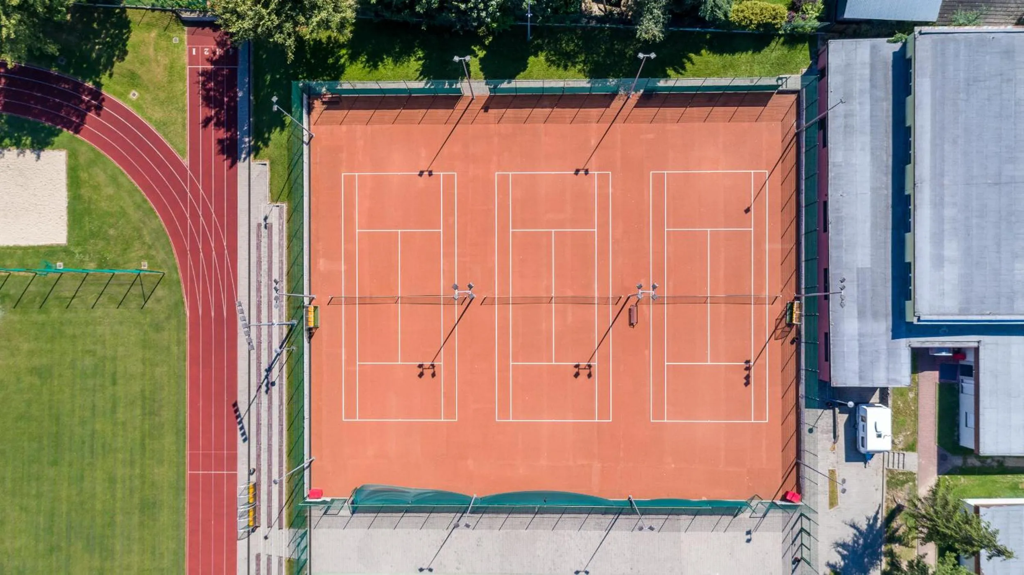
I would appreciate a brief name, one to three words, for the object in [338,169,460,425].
tennis court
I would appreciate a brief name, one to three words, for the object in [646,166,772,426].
tennis court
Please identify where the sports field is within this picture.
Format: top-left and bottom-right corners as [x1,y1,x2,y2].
[0,273,186,575]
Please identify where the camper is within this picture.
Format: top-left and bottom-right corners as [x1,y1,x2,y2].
[855,400,891,463]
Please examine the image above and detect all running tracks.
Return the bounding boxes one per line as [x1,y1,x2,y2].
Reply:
[0,21,238,575]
